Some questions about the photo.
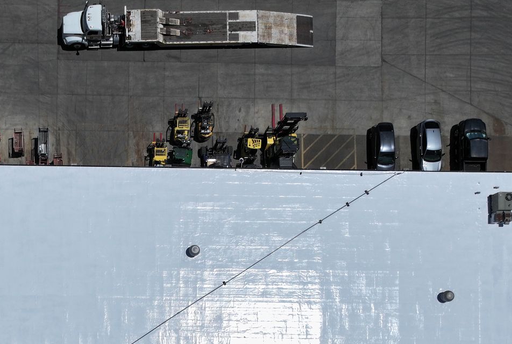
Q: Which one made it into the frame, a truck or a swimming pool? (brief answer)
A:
truck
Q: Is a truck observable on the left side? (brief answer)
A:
Yes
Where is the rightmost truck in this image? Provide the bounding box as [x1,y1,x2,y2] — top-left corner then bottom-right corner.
[454,119,491,170]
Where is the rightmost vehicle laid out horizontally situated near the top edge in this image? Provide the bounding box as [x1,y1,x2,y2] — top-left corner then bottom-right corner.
[124,0,312,53]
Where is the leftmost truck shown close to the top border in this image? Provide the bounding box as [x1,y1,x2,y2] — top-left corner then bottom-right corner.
[59,0,148,48]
